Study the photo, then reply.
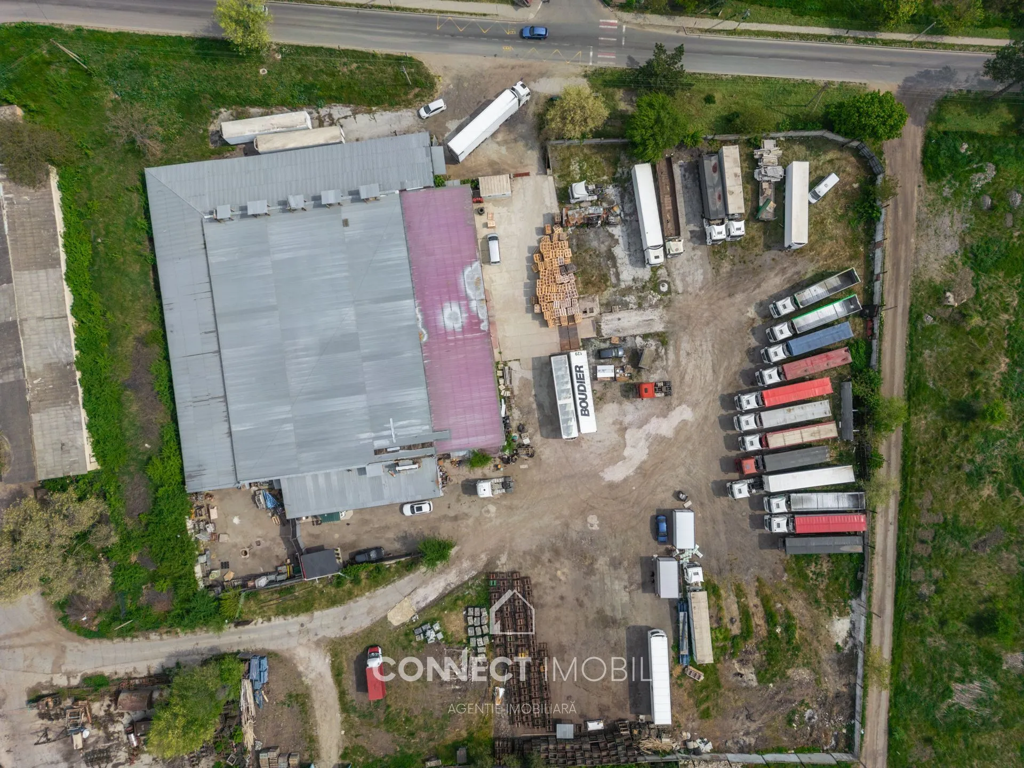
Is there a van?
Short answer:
Yes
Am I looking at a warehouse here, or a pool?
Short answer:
warehouse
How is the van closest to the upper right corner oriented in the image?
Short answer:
at an angle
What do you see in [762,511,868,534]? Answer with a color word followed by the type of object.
red truck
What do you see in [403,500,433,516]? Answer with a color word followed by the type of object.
white car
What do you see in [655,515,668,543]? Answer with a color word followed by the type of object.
blue vehicle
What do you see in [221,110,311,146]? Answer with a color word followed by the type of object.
white vehicle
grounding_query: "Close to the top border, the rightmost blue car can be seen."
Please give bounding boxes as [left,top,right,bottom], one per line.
[520,27,548,41]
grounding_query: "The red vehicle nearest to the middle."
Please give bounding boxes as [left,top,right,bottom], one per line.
[636,380,672,400]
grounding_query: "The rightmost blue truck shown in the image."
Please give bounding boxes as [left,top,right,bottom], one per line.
[758,321,854,365]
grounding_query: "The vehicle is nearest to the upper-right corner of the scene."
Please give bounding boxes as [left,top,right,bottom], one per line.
[808,169,845,206]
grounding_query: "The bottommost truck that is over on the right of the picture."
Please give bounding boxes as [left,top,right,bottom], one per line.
[647,623,671,725]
